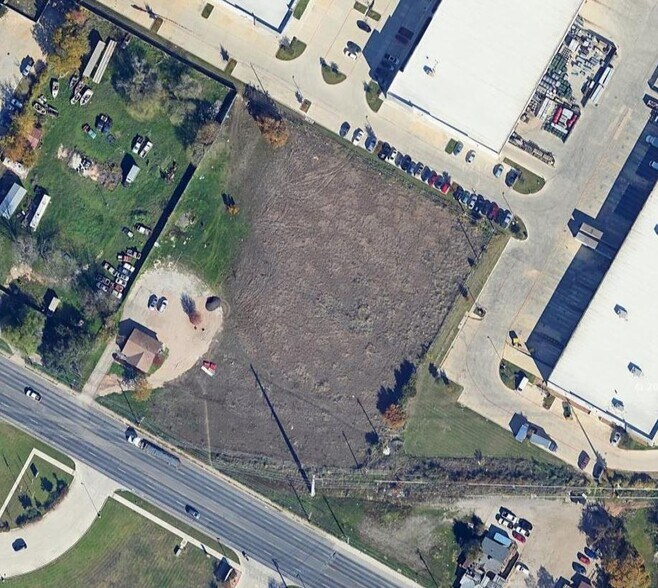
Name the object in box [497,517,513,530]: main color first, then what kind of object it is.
white vehicle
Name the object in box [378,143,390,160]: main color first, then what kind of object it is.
black vehicle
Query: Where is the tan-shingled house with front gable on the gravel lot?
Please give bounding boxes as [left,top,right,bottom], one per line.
[123,329,162,373]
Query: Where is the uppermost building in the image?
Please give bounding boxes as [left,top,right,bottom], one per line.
[209,0,303,40]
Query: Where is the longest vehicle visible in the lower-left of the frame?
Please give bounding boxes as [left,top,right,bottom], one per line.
[130,436,184,470]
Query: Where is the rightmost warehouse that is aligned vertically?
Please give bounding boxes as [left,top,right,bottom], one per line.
[546,189,658,445]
